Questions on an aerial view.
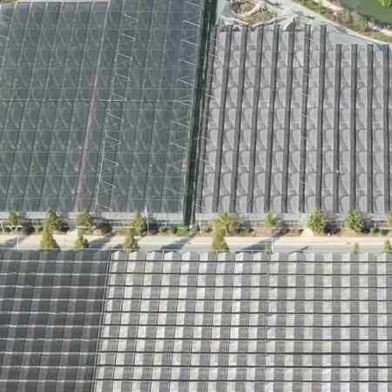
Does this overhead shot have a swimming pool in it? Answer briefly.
No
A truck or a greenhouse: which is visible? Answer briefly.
greenhouse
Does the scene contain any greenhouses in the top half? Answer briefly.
Yes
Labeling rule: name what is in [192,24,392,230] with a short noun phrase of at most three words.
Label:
greenhouse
